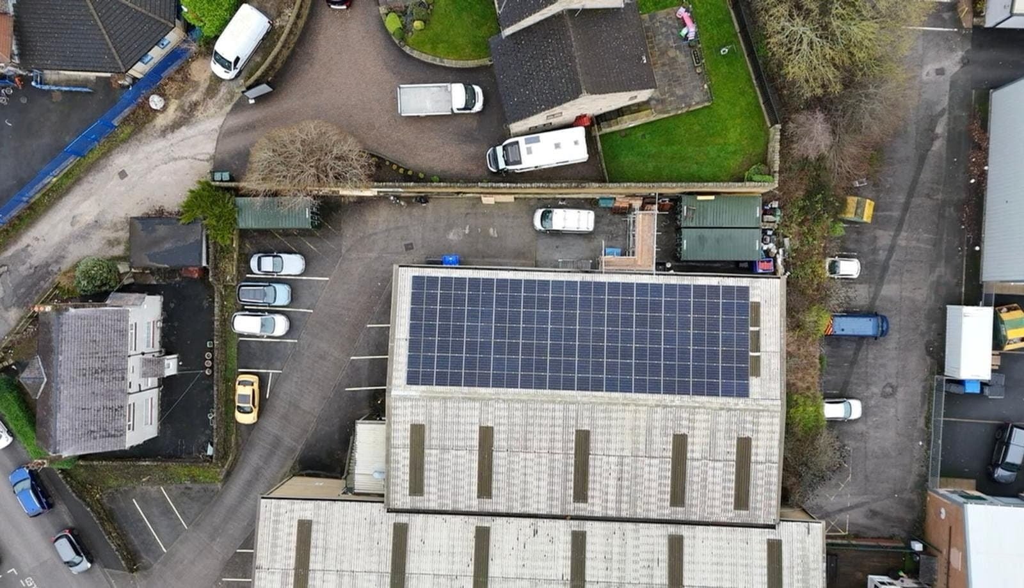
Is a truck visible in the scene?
Yes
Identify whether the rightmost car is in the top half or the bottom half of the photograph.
bottom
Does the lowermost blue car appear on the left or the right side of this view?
left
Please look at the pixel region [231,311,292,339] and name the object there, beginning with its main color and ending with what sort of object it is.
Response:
white car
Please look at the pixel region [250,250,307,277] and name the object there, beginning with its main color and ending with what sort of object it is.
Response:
white car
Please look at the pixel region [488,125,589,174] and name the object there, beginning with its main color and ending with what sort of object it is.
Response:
white van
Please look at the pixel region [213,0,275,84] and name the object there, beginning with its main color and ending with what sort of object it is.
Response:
white van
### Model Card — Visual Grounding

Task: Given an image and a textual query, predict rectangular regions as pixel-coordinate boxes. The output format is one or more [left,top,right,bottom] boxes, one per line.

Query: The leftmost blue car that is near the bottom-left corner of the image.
[11,464,57,521]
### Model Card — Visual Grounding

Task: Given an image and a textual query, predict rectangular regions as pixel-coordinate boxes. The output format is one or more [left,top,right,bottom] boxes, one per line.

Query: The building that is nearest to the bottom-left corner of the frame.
[19,287,181,469]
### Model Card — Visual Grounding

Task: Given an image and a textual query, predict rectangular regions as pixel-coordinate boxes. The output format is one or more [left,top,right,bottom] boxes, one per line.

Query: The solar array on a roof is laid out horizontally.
[407,276,750,398]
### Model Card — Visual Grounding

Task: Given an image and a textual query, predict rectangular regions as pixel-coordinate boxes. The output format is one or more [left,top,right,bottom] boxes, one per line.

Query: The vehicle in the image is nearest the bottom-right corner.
[991,423,1024,482]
